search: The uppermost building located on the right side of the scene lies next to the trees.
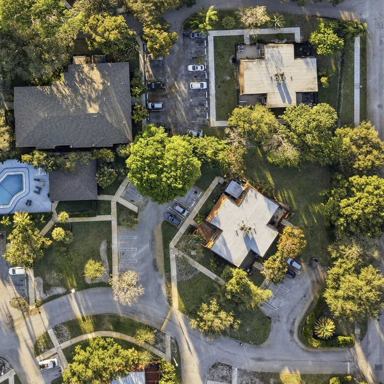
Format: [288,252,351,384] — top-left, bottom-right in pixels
[235,40,318,109]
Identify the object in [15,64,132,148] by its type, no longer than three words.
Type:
building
